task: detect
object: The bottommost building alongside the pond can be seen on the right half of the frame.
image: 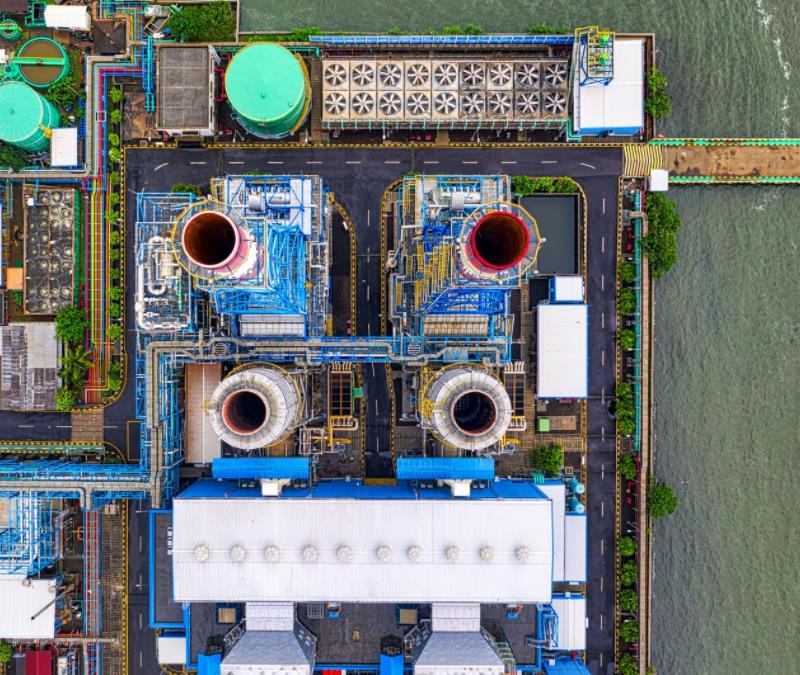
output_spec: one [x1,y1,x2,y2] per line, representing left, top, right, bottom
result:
[531,305,589,398]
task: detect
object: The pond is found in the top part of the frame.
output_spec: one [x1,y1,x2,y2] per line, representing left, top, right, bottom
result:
[516,192,580,276]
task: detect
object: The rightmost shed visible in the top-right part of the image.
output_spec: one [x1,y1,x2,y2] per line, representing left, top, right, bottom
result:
[645,170,668,193]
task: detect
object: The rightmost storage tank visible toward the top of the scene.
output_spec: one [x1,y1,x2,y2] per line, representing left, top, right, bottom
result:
[225,41,316,145]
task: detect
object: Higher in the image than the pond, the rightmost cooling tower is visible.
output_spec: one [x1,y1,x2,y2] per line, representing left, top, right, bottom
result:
[321,58,574,129]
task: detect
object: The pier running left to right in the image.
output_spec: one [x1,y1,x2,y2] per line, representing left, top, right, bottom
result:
[648,138,800,184]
